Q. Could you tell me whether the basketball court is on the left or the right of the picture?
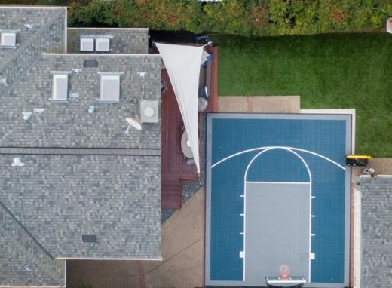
right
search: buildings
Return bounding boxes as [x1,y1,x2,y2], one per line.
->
[354,174,392,288]
[0,4,162,288]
